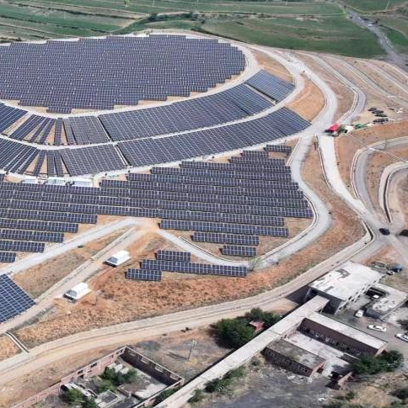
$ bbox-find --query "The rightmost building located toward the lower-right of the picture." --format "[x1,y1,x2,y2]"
[361,287,408,321]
